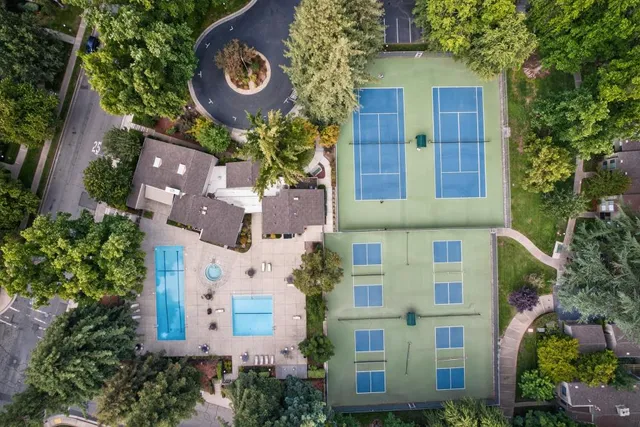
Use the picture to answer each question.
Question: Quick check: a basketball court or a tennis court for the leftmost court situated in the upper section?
tennis court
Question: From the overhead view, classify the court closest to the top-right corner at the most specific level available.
tennis court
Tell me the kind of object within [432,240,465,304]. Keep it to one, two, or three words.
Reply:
sports court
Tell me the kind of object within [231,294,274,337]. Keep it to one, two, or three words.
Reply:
swimming pool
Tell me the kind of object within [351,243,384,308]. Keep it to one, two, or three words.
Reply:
sports court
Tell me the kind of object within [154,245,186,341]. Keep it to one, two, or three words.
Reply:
swimming pool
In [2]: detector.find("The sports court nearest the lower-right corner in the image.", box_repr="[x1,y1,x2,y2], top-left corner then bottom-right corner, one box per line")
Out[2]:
[434,326,467,390]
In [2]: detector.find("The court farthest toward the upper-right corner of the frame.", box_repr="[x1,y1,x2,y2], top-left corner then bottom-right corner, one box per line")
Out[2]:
[429,86,491,198]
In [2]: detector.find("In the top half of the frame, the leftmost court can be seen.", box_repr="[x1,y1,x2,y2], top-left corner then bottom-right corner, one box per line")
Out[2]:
[349,87,411,201]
